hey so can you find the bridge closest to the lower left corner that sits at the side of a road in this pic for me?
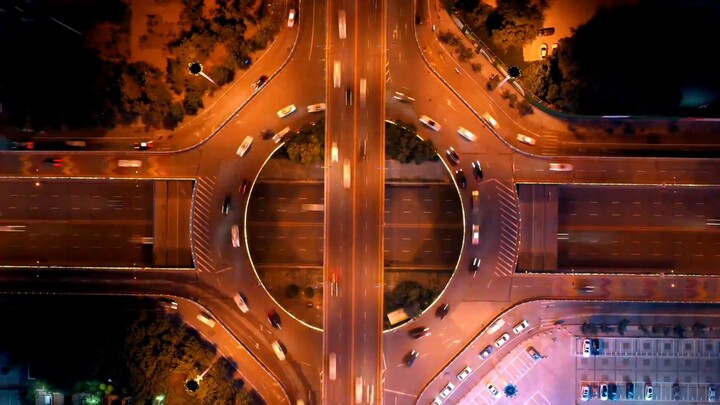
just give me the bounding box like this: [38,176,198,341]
[153,179,198,269]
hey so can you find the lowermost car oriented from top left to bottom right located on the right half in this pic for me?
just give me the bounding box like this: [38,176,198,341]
[487,382,501,397]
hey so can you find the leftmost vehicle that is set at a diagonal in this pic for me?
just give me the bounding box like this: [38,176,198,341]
[199,314,215,327]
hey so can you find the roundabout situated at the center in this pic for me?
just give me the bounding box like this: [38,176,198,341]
[191,5,543,405]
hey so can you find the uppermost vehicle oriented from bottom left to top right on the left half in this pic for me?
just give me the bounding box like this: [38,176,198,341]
[254,74,269,89]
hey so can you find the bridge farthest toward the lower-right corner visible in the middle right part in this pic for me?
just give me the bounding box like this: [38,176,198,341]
[512,184,560,274]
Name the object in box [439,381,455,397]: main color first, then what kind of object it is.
white car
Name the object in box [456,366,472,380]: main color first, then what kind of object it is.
white car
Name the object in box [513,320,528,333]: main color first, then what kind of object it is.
white vehicle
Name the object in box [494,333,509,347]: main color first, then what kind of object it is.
white vehicle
